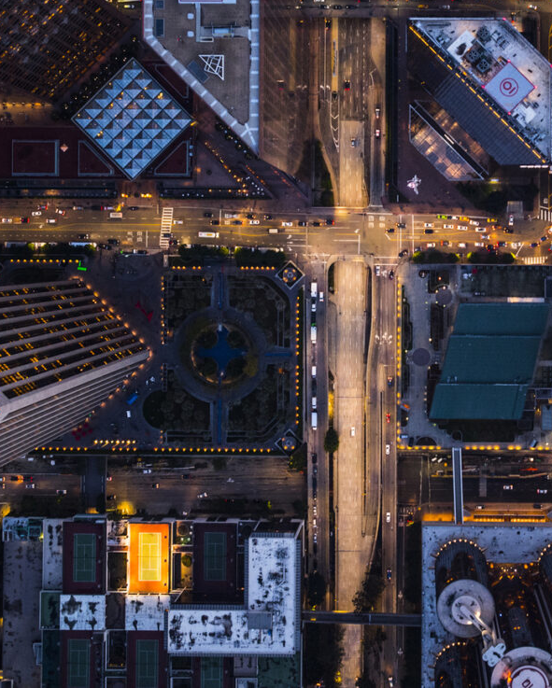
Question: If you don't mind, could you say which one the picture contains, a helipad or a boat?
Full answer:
The image shows a helipad.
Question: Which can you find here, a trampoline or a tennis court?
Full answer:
Looking from above, you can make out a tennis court.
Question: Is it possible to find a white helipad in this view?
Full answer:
No, I can see no white helipad in this picture.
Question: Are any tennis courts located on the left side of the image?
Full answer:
Yes, you'll find a tennis court on the left side of the image.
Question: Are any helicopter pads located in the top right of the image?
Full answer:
Yes, a helicopter pad can be seen in the top right of the image.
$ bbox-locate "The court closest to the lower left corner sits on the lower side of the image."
[66,639,91,687]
